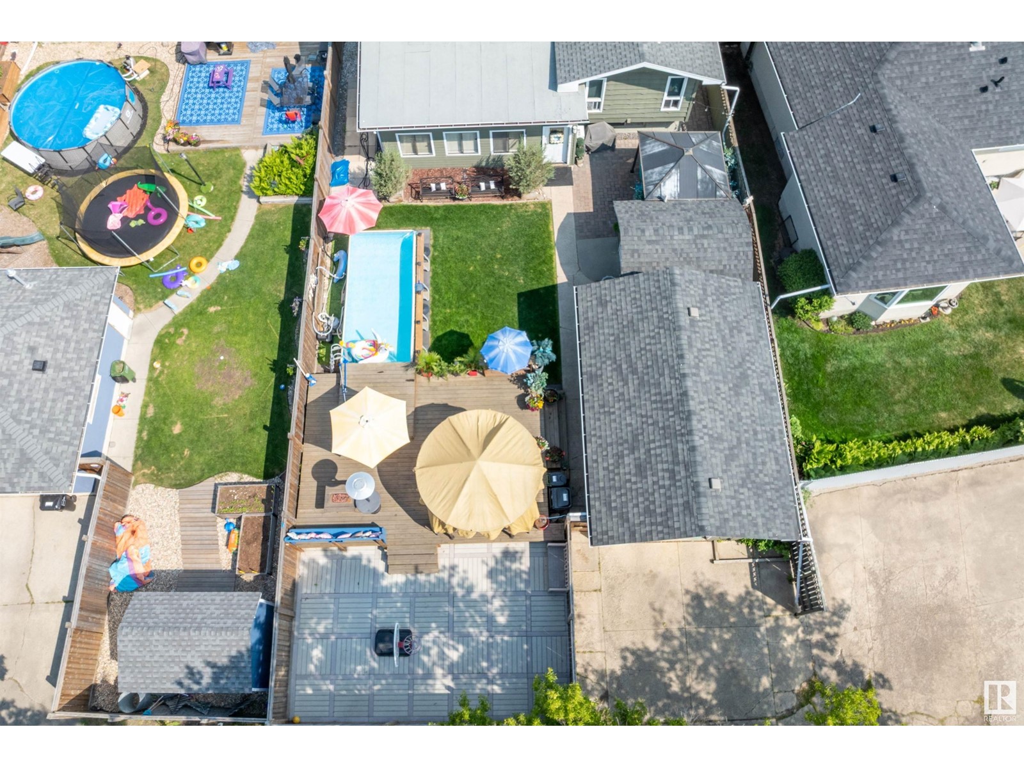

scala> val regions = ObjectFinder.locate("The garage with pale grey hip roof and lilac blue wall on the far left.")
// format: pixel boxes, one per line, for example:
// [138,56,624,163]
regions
[0,264,143,498]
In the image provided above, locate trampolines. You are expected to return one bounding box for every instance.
[51,141,199,276]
